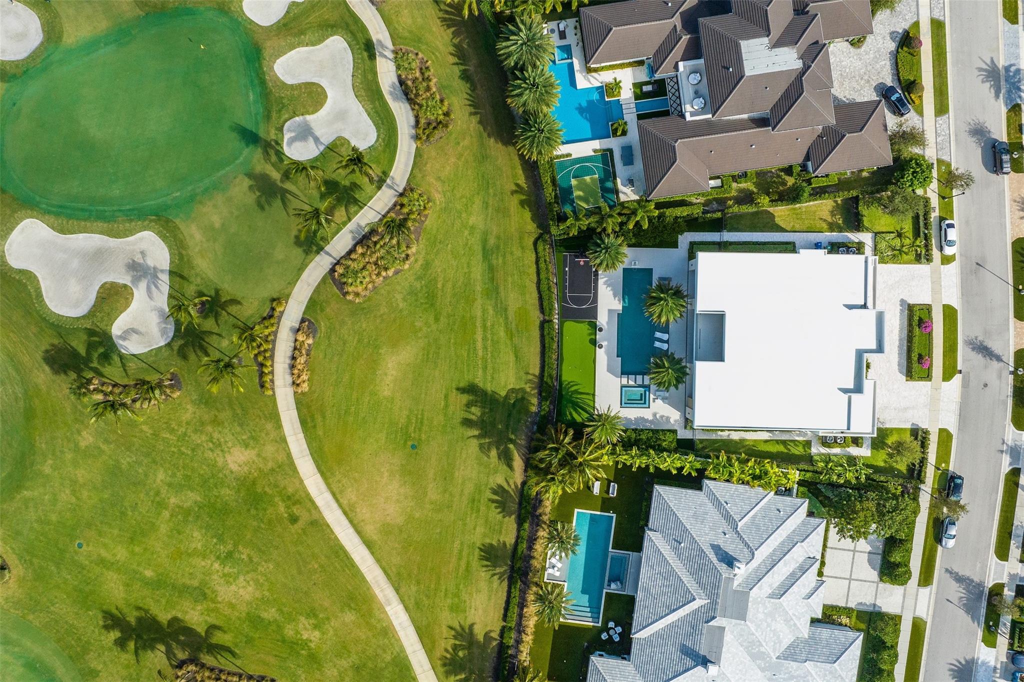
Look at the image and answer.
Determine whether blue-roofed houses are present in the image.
No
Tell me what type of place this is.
golf course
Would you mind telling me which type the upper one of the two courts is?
basketball court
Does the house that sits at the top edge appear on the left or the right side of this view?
right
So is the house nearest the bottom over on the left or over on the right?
right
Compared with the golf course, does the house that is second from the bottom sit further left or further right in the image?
to the right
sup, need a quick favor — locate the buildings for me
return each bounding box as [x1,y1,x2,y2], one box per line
[586,478,864,682]
[685,249,887,437]
[579,0,894,200]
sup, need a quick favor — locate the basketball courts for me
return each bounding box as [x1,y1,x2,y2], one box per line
[562,254,598,320]
[555,151,620,216]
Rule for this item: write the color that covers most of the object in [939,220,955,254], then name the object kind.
white car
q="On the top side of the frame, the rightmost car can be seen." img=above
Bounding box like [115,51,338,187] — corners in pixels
[992,139,1011,174]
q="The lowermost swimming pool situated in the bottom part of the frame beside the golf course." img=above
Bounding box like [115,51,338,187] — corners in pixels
[545,509,616,625]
